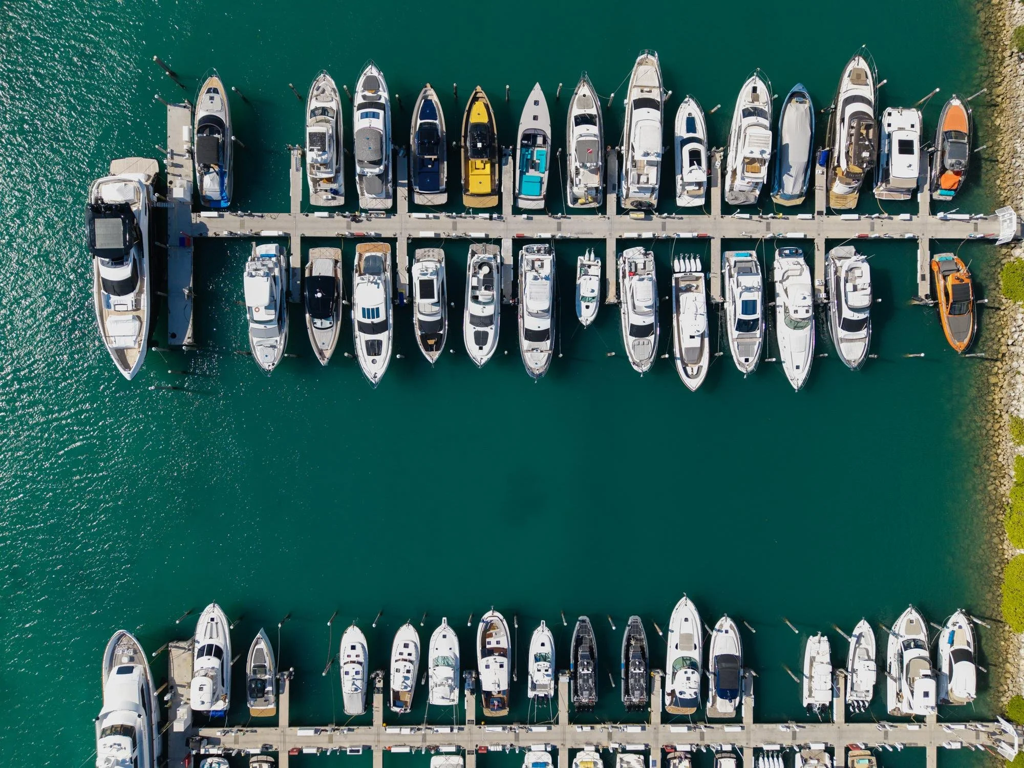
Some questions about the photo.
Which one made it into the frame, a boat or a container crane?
boat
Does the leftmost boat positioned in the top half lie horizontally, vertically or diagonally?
vertically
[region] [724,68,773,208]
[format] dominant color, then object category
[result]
white boat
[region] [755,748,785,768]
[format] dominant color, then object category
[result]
white boat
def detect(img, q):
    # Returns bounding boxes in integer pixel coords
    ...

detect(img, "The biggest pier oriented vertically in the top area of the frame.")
[167,104,195,345]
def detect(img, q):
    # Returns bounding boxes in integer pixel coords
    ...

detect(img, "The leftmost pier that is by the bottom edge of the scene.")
[169,645,195,768]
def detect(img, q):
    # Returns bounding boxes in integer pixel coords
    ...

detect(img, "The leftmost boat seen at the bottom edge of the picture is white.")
[92,626,164,768]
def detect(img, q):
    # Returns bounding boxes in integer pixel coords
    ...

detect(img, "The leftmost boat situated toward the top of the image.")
[87,157,161,379]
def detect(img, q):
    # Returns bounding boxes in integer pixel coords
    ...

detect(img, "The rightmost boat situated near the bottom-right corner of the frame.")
[931,606,977,711]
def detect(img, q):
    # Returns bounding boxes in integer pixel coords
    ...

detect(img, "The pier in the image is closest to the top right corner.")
[914,150,929,214]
